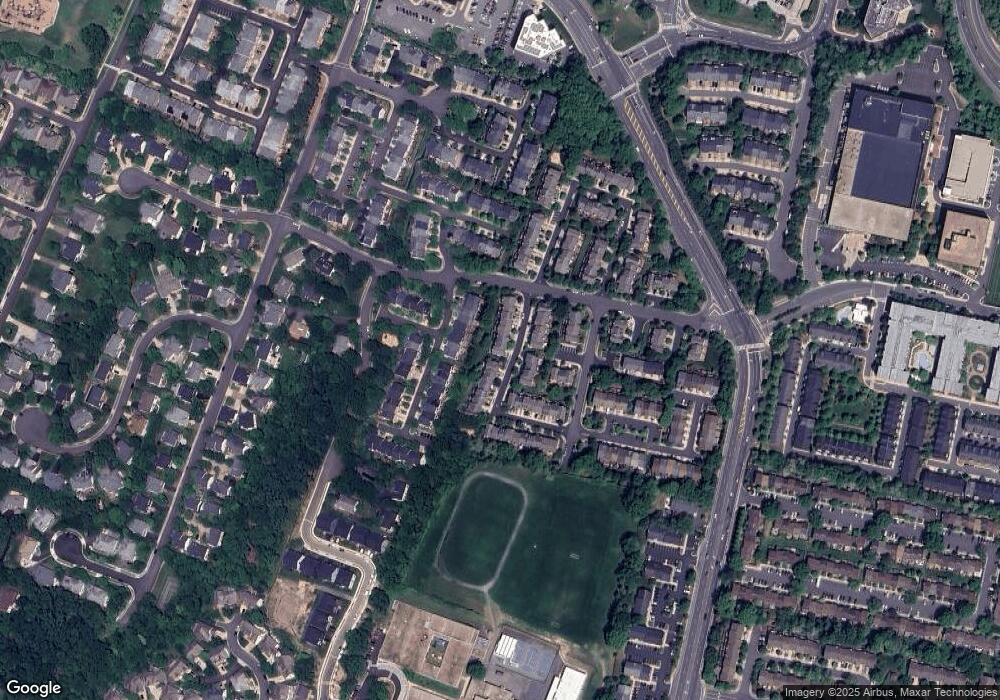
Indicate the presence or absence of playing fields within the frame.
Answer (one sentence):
Yes, the image includes a playing field.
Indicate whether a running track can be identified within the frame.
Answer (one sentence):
Yes, a running track can be made out from above.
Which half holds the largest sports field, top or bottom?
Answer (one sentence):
The largest sports field is in the bottom half of the image.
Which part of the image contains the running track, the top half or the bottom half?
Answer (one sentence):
The bottom half of the photo is where the running track is.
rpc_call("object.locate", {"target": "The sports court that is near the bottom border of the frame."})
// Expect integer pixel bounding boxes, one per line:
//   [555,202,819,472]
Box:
[512,638,558,680]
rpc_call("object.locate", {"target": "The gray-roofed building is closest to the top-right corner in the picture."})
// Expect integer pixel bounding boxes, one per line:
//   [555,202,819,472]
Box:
[864,0,912,41]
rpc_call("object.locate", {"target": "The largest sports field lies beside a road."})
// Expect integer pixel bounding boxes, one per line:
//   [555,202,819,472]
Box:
[408,465,638,644]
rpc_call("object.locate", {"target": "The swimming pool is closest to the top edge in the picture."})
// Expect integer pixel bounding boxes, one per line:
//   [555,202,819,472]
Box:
[835,305,853,322]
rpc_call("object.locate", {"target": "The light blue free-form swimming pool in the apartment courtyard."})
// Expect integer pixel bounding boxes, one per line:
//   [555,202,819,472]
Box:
[910,342,935,372]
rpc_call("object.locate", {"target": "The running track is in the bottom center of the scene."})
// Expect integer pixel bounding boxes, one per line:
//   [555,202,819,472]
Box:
[436,472,527,589]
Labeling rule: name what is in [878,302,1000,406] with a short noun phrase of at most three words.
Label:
building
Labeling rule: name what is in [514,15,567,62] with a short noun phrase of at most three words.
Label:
building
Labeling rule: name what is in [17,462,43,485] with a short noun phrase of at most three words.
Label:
house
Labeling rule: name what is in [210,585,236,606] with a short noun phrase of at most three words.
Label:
house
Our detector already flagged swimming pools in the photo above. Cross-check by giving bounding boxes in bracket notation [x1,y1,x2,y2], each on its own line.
[910,342,935,372]
[835,305,853,322]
